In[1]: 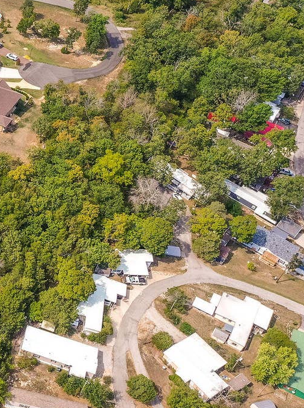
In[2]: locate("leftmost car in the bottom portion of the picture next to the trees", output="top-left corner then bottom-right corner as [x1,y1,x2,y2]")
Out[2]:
[70,316,83,332]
